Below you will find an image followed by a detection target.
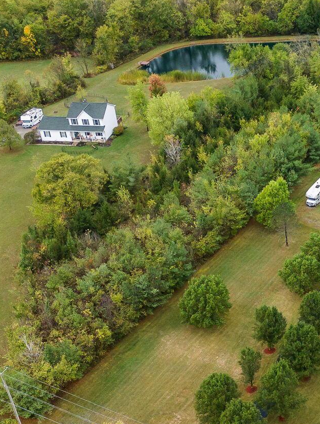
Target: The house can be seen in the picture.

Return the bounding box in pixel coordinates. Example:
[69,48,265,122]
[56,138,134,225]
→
[38,102,125,143]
